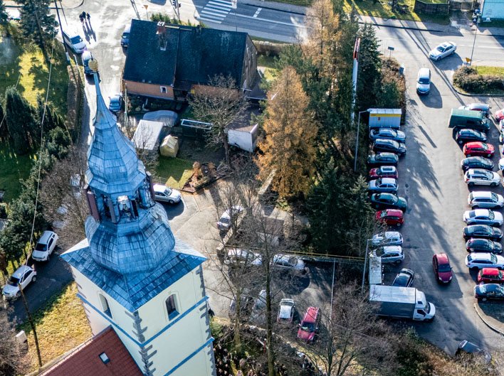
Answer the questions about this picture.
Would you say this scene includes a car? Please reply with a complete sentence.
Yes, the photo shows a car.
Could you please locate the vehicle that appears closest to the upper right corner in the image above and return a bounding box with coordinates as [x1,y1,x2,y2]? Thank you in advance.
[426,41,459,60]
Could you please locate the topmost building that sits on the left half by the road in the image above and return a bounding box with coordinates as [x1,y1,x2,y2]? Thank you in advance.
[122,12,267,108]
